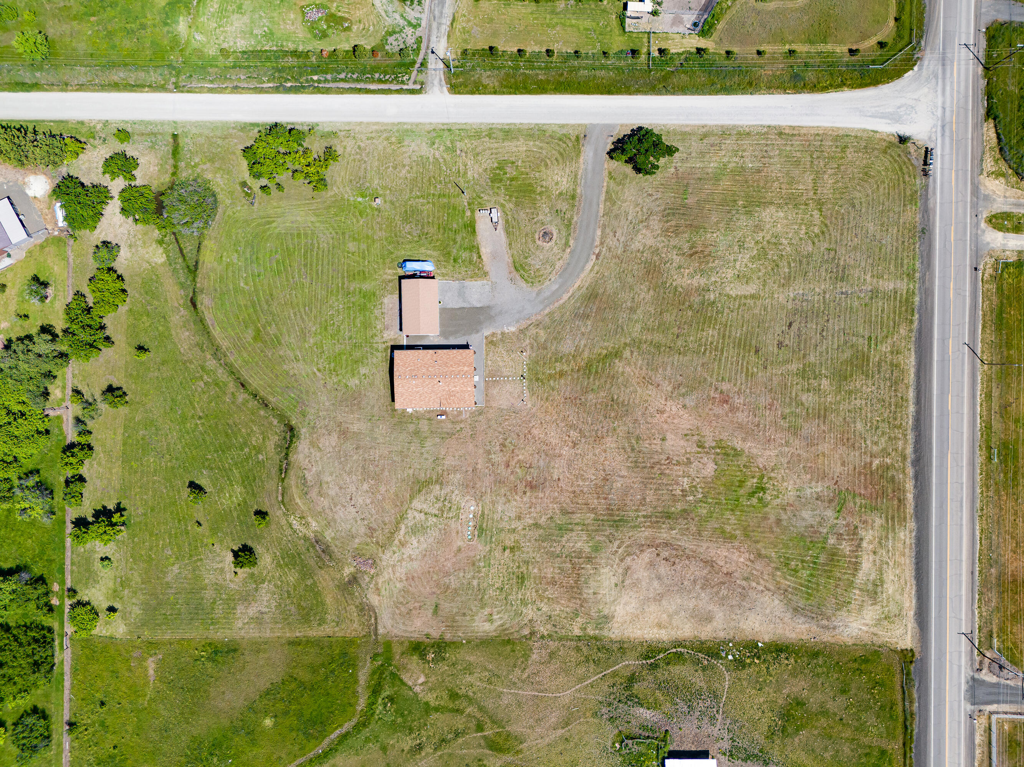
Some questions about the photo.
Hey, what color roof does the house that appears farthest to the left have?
white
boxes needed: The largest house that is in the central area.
[394,349,475,410]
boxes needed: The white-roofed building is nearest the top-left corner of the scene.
[0,197,34,256]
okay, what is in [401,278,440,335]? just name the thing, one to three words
building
